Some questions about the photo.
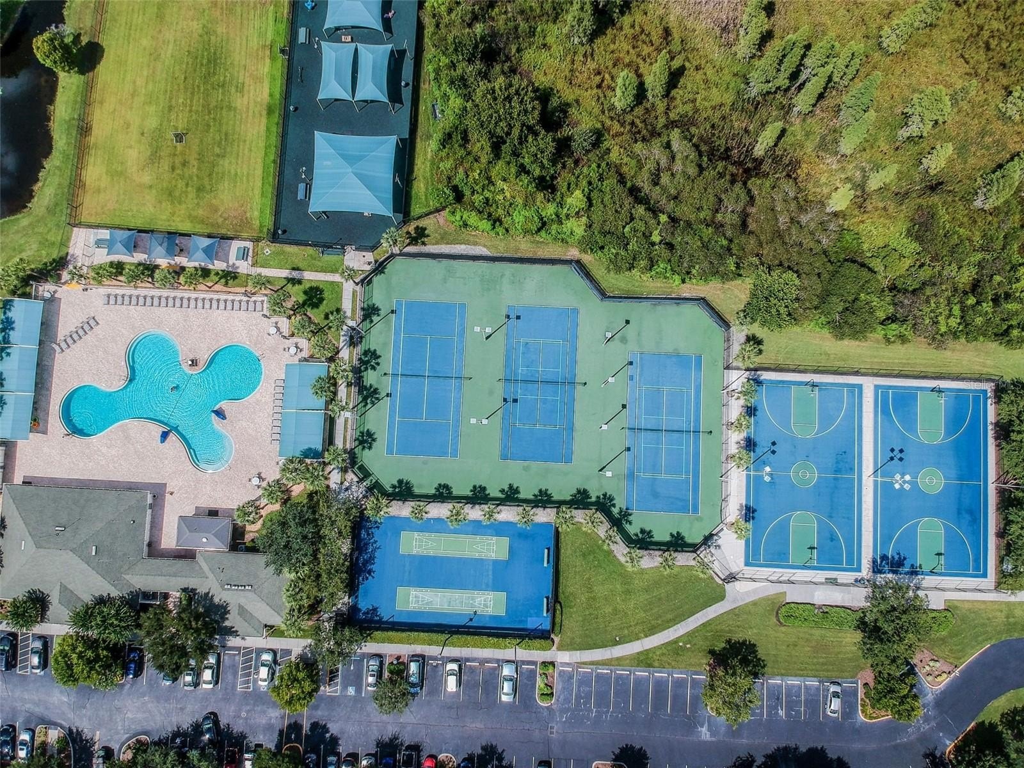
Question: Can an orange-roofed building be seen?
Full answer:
No, this view has no orange-roofed building in it.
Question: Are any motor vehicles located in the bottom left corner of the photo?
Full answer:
Yes, a motor vehicle appears in the bottom left corner of the photo.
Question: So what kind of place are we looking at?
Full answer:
The picture captures a sports ground.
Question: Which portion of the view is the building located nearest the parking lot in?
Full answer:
You can find the building located nearest the parking lot in the bottom left area of the picture.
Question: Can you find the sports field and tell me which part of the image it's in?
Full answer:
The sports field is located in the top left region of the scene.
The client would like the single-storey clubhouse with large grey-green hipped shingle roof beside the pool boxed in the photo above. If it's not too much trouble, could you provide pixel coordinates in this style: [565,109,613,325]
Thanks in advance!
[0,484,286,637]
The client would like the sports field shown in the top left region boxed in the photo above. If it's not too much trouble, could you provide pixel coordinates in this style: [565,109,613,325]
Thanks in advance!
[73,0,286,238]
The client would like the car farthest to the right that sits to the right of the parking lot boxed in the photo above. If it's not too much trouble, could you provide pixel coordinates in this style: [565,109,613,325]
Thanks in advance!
[825,680,842,717]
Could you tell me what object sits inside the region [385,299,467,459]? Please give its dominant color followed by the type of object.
blue tennis court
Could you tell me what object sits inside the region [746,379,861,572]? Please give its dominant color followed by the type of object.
blue basketball court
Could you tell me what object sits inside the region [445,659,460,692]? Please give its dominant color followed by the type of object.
white car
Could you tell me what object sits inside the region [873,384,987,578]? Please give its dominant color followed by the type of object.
blue basketball court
